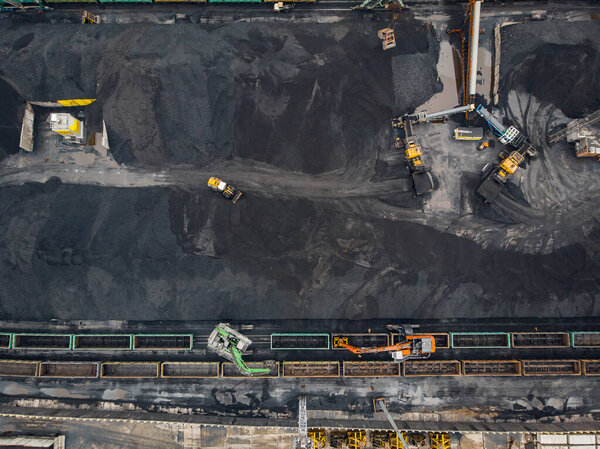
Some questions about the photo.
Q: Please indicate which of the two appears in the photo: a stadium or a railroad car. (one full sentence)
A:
I can see a railroad car in this picture.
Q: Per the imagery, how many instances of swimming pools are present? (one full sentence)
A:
There are no swimming pools in this view.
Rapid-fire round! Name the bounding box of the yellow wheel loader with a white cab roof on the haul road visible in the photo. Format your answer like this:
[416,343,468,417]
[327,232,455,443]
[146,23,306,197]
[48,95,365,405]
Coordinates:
[205,177,242,208]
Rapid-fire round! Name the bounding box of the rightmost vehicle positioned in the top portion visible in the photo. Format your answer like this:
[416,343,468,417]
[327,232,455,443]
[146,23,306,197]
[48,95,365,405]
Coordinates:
[547,107,600,161]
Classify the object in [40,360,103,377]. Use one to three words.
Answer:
rail car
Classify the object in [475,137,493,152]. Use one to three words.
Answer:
work vehicle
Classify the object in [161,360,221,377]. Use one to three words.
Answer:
rail car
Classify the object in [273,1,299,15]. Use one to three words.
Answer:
vehicle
